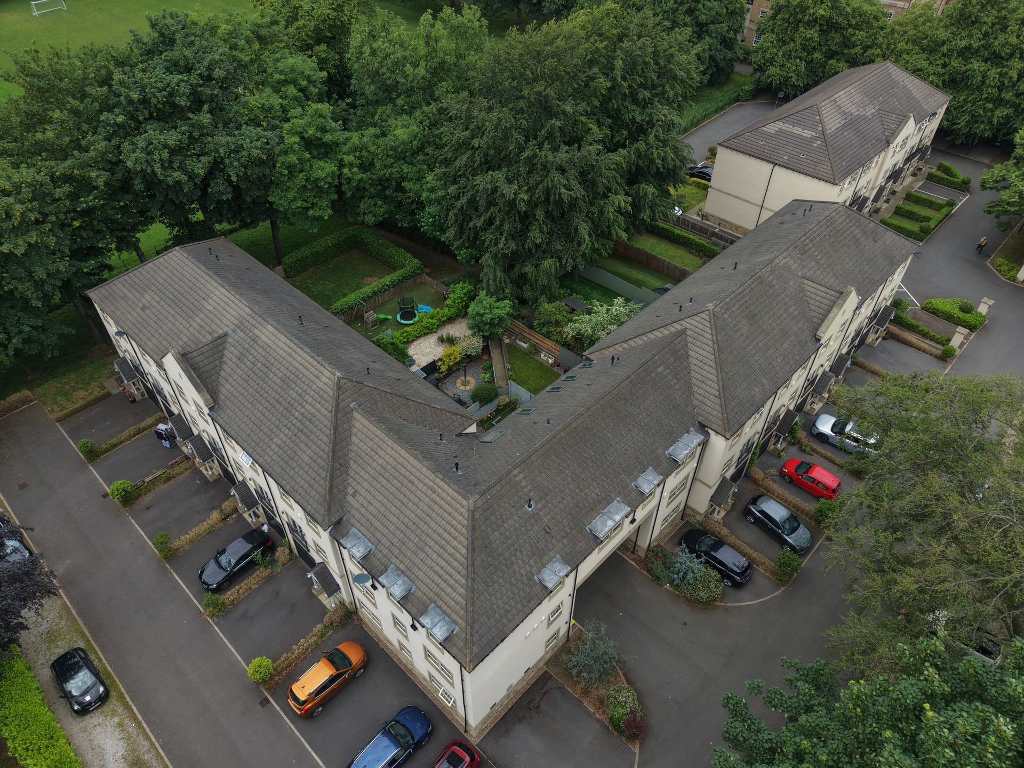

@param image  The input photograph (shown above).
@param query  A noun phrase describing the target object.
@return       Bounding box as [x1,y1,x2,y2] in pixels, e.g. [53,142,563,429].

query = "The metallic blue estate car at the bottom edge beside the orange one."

[343,698,434,768]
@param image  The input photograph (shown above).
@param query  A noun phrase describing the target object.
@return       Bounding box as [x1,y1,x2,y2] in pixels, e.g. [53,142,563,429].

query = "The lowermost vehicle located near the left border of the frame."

[47,647,109,713]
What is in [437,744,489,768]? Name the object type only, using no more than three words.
car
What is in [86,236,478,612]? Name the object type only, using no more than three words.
building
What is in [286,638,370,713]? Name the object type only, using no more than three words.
car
